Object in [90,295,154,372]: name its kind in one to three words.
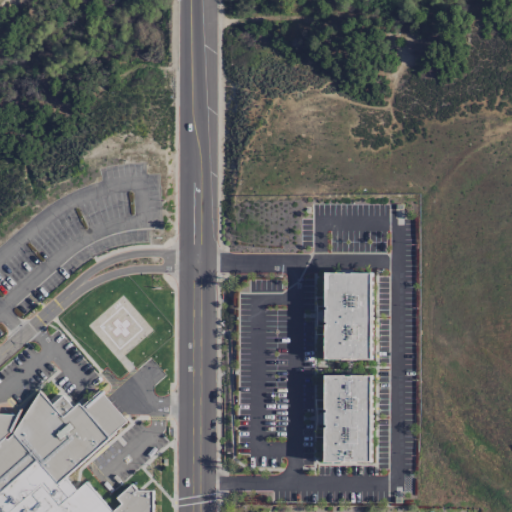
helipad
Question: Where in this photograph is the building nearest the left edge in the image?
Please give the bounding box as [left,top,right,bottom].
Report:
[0,392,130,512]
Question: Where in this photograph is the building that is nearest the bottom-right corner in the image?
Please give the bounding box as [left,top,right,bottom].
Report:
[324,374,375,461]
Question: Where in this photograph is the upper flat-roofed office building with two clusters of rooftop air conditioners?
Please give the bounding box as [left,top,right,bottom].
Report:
[324,272,375,360]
